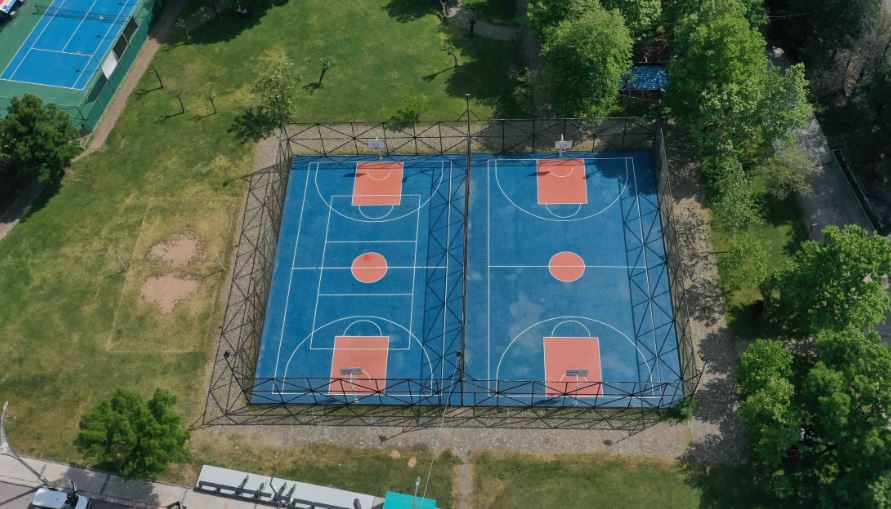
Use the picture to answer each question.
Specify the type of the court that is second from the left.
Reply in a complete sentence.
The court that is second from the left in the image is a basketball court.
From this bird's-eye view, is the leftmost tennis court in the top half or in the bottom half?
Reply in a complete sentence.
The leftmost tennis court sits in the top half of the picture.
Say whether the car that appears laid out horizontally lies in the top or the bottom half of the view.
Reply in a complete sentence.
The car that appears laid out horizontally sits in the bottom half of the picture.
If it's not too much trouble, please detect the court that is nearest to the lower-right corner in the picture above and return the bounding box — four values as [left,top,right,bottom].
[463,152,687,407]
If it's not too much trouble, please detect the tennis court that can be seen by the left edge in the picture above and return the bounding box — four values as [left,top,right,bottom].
[0,0,153,144]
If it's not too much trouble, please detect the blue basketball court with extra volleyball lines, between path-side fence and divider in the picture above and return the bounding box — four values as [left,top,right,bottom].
[250,153,466,405]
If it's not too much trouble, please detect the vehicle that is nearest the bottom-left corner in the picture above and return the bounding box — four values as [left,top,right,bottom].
[30,480,94,509]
